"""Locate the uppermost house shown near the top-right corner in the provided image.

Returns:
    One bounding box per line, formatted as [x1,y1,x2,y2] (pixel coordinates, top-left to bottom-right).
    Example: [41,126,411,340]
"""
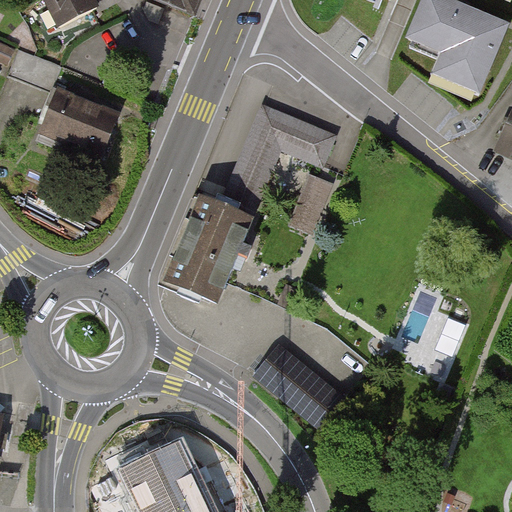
[405,0,510,100]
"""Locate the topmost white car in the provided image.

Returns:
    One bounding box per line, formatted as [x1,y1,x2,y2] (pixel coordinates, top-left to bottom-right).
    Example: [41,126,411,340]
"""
[352,36,368,60]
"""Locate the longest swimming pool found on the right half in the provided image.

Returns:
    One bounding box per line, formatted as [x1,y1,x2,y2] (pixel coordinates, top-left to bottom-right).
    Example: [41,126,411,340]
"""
[402,291,437,344]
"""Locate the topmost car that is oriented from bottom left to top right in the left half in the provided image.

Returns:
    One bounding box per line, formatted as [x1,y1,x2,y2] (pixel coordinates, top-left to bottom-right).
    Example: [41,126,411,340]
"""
[86,258,110,278]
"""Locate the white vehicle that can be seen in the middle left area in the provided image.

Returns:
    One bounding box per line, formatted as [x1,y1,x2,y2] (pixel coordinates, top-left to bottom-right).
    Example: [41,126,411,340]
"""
[35,295,57,320]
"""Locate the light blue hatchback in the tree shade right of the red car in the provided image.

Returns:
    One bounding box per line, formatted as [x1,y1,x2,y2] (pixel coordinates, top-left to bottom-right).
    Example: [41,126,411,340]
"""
[122,18,138,38]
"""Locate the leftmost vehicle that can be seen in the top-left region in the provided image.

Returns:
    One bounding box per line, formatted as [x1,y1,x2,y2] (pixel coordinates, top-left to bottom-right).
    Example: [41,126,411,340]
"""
[102,28,116,50]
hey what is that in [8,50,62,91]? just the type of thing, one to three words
building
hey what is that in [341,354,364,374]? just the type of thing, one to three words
vehicle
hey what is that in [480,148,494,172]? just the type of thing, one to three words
car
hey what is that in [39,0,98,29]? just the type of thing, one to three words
house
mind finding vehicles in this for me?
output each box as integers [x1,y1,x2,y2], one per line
[480,148,494,172]
[489,154,504,176]
[237,12,260,24]
[341,354,364,374]
[352,36,368,60]
[35,295,57,320]
[102,28,116,50]
[86,258,110,278]
[122,18,138,38]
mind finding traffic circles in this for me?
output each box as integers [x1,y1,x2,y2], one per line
[22,268,154,402]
